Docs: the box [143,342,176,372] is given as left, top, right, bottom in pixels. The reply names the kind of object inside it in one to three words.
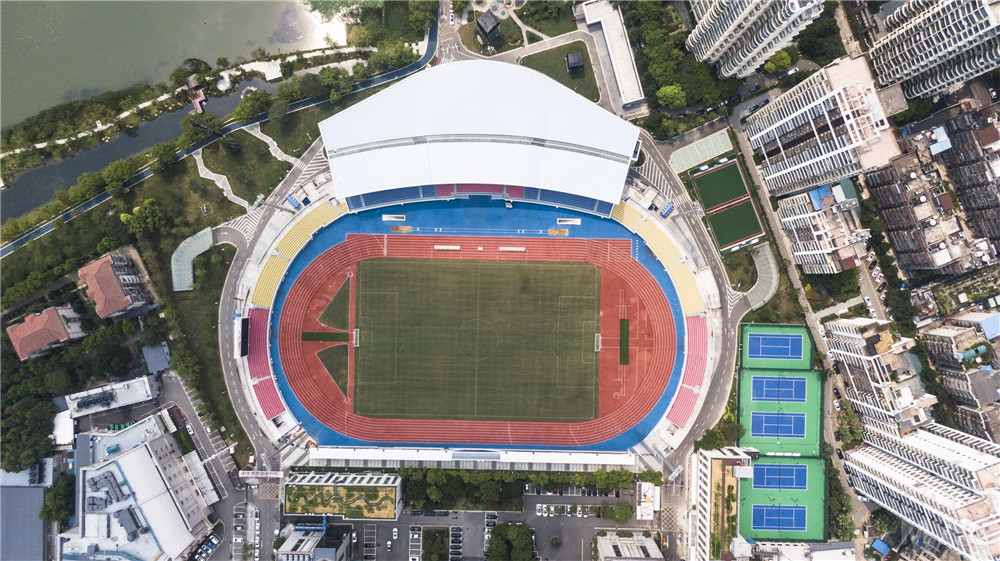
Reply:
shed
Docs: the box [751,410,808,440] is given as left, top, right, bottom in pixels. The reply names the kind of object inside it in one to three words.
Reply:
tennis court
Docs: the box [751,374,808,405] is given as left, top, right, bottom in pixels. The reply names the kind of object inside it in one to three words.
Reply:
tennis court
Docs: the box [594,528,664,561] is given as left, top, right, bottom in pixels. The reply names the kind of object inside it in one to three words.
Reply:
building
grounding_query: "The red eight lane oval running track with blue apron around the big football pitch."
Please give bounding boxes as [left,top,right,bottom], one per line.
[271,199,687,451]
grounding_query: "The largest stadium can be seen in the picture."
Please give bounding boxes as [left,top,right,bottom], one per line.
[239,59,715,449]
